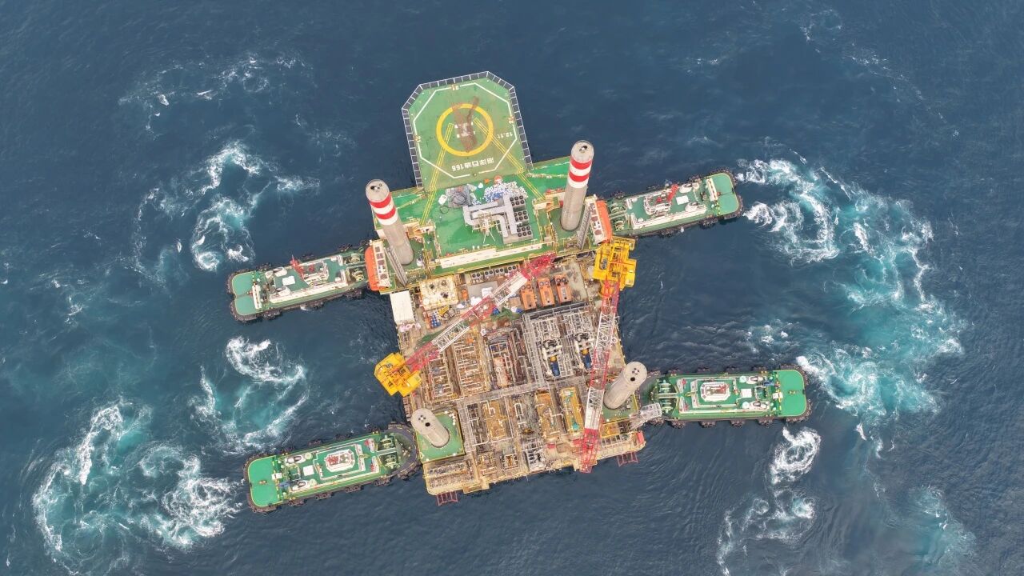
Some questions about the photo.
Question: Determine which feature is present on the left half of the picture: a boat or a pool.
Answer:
boat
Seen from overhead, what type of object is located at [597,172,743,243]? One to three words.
boat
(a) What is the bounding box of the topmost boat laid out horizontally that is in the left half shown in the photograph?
[230,245,379,321]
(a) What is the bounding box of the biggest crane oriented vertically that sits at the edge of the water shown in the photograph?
[579,246,633,475]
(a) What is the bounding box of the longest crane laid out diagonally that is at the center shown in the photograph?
[377,250,561,402]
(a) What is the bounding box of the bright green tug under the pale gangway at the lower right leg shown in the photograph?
[636,363,811,427]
